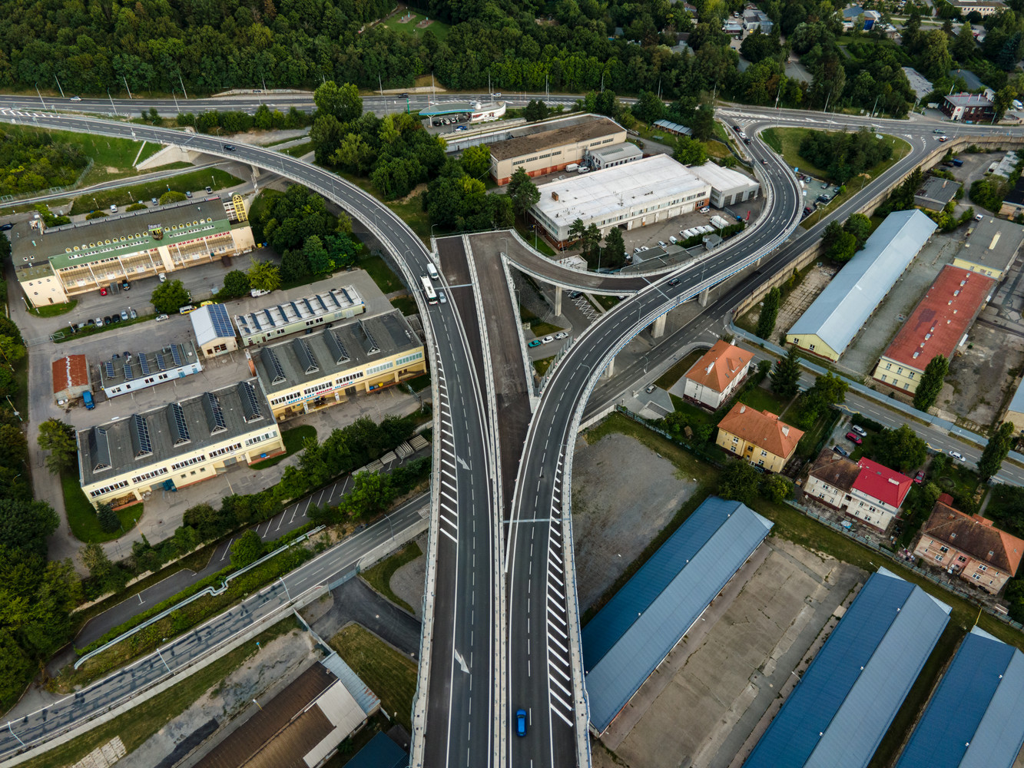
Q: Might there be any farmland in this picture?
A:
No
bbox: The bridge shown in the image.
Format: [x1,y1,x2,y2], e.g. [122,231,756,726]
[0,110,804,768]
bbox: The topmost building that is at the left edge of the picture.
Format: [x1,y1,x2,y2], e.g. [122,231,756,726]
[19,189,258,307]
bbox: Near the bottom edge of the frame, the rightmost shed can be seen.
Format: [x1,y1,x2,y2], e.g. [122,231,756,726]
[886,626,1024,768]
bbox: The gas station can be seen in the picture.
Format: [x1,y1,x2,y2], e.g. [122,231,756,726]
[422,101,506,132]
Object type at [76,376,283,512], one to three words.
building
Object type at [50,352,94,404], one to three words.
shed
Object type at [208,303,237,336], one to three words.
solar array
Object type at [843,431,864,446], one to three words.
car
